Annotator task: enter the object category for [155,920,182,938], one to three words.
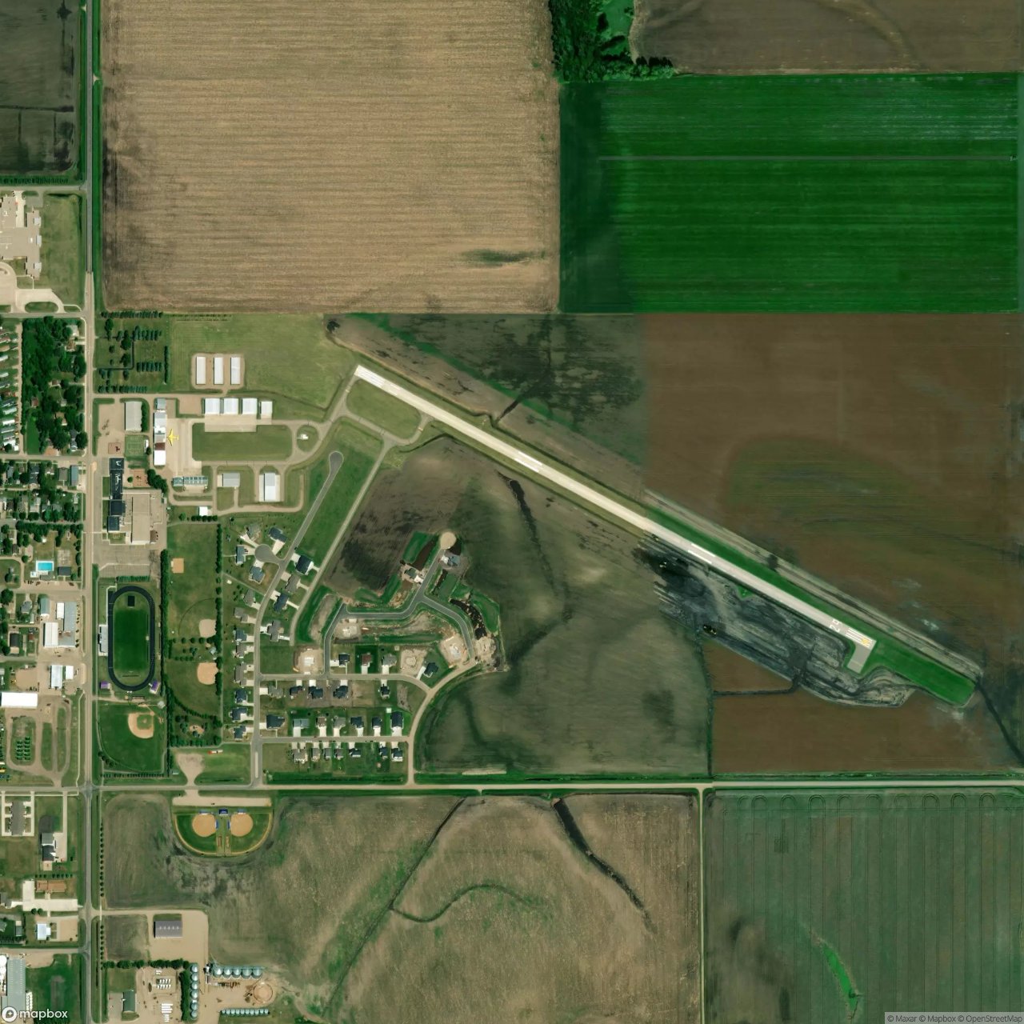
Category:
shed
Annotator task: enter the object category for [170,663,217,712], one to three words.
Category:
baseball field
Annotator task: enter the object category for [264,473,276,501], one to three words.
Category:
hangar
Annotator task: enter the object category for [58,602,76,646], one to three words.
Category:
building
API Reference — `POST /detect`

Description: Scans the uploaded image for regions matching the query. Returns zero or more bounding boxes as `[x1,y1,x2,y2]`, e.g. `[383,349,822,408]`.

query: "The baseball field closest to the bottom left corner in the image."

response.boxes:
[175,814,217,855]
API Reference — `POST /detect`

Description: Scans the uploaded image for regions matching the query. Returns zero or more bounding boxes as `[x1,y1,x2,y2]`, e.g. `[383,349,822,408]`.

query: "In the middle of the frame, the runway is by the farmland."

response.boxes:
[355,365,876,650]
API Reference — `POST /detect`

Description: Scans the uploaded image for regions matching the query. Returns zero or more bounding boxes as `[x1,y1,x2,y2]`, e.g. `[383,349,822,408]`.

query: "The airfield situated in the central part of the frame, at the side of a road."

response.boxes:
[166,365,876,673]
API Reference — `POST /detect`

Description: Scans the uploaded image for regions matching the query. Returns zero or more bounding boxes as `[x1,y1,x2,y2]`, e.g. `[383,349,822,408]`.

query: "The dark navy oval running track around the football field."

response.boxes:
[108,586,155,691]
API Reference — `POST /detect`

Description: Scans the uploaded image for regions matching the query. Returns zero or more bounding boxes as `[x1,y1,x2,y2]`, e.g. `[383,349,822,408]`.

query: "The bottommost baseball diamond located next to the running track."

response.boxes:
[99,704,166,772]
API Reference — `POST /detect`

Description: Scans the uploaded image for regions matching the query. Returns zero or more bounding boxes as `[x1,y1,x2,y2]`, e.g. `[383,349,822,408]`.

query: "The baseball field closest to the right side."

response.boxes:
[230,810,272,855]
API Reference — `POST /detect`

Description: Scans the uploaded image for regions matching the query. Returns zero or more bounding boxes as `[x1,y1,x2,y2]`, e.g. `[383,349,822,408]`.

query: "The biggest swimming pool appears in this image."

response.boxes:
[36,560,54,575]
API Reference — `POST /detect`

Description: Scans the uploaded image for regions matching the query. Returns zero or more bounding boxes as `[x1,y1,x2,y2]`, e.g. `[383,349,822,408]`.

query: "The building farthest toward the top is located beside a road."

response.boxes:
[0,196,41,280]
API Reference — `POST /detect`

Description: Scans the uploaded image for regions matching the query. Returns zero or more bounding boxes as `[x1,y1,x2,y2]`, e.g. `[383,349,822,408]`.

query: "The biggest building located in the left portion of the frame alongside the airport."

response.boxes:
[108,458,162,543]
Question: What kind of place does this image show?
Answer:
farmland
